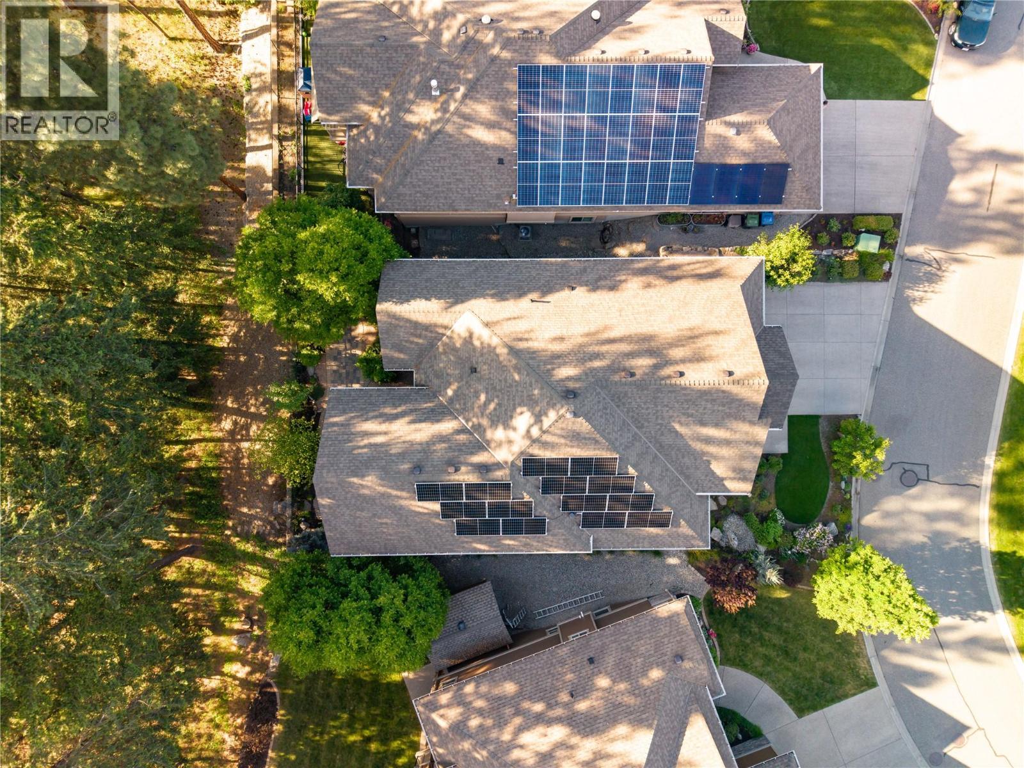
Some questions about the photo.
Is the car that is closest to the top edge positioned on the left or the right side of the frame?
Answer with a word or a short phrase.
right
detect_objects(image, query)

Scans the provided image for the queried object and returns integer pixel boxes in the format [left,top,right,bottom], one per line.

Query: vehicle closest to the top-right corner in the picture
[952,0,1011,48]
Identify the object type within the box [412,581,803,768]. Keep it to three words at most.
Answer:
house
